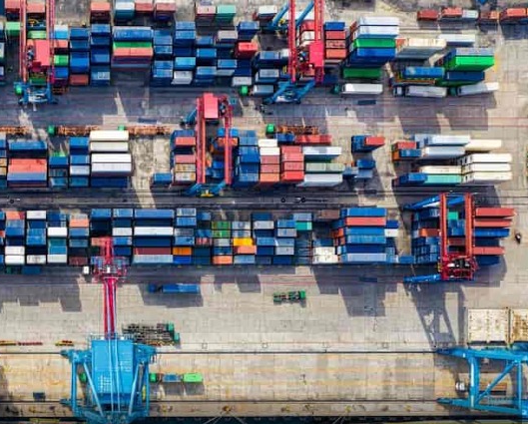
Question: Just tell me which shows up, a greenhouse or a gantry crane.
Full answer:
Of the two, only a gantry crane appears.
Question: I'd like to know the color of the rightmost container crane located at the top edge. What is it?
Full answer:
The rightmost container crane located at the top edge is red.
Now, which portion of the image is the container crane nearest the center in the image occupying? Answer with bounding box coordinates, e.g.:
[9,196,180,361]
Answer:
[182,93,232,197]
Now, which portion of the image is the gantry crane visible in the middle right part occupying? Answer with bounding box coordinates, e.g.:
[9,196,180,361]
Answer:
[399,193,476,285]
